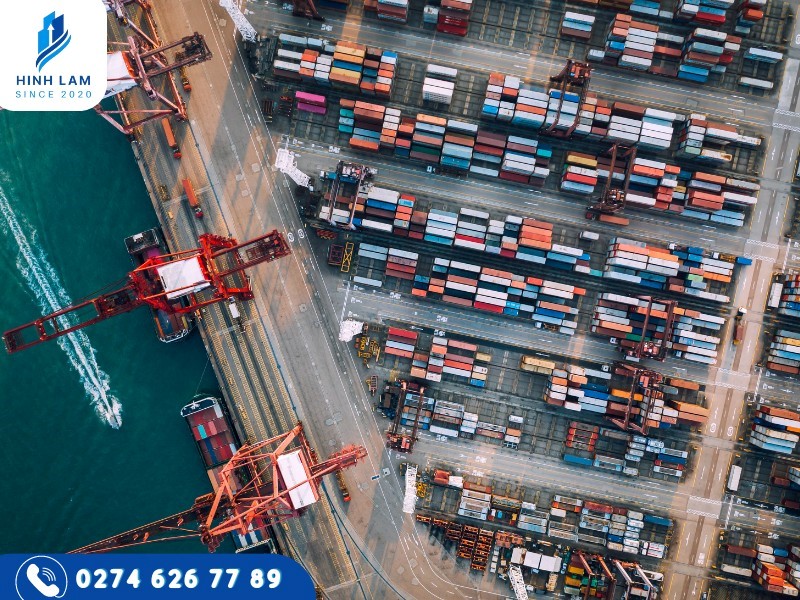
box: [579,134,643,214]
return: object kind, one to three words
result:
container crane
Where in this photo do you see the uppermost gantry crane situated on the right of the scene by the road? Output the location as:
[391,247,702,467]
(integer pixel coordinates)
[535,55,595,141]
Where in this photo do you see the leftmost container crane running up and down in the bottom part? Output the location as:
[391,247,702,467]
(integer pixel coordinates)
[384,374,429,453]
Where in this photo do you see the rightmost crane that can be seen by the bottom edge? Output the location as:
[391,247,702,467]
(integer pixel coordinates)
[606,553,660,600]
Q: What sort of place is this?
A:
port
